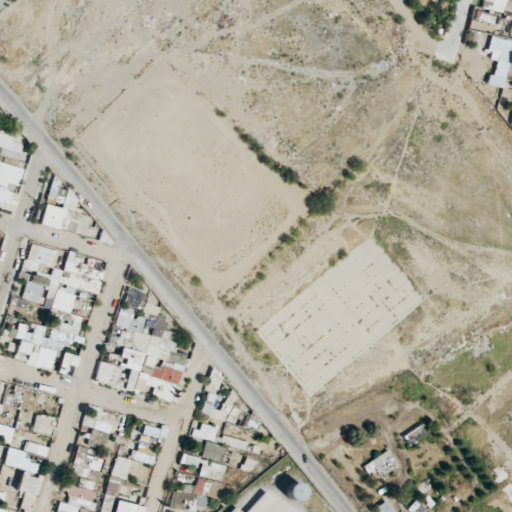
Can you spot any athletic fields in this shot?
Yes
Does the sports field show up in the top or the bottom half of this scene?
top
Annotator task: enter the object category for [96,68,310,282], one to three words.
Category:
sports field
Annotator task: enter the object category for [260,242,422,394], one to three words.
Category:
sports court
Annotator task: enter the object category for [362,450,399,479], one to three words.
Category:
house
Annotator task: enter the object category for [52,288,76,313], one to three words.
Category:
house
